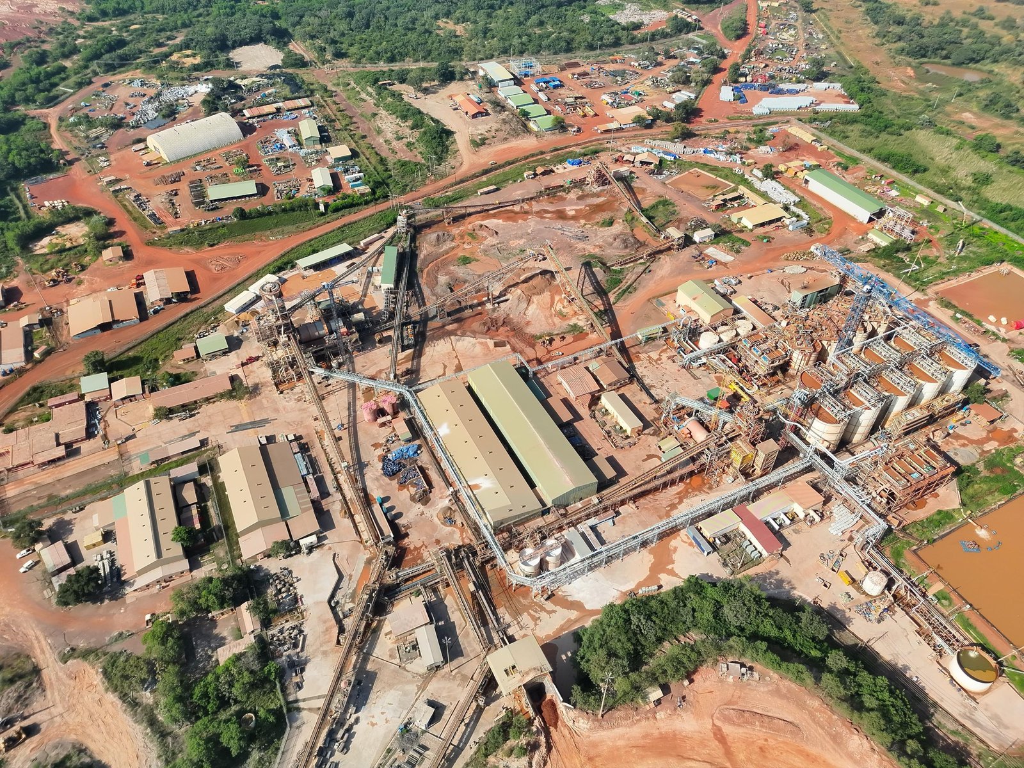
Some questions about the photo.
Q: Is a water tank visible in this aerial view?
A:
Yes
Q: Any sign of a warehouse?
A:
Yes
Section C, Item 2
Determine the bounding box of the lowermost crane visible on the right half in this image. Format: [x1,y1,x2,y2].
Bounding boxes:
[707,357,809,426]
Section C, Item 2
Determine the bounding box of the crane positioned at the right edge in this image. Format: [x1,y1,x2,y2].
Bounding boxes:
[811,245,1006,372]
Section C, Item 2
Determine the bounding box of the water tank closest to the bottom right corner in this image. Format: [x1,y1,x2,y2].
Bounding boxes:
[944,641,1006,697]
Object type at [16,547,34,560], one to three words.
vehicle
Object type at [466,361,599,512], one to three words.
warehouse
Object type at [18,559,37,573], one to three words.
vehicle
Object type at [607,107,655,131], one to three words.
building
